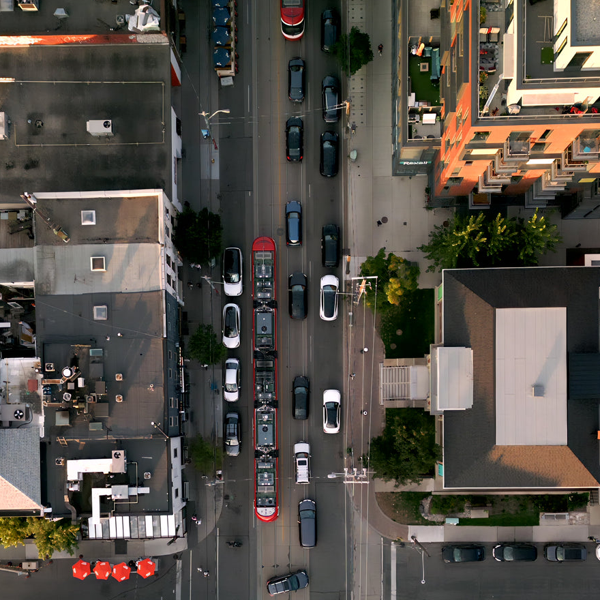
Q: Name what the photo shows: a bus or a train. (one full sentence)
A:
It is a train that can be seen here.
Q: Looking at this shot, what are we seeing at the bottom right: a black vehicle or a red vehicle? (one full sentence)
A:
Visible at the bottom right is a black vehicle.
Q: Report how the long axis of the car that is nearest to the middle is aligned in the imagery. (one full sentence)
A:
In this picture, the car that is nearest to the middle is oriented up and down.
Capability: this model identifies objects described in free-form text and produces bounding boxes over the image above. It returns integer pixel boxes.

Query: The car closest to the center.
[287,274,308,320]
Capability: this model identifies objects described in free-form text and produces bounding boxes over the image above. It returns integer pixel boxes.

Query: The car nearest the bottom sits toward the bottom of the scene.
[266,569,309,595]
